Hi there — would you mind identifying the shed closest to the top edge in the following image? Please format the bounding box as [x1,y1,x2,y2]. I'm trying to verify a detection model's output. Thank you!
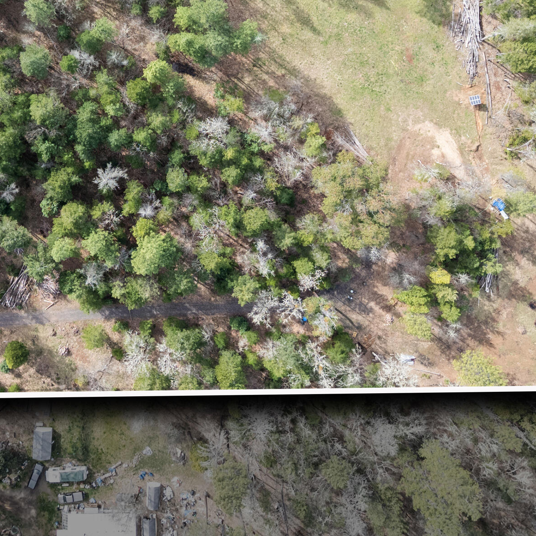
[32,424,53,462]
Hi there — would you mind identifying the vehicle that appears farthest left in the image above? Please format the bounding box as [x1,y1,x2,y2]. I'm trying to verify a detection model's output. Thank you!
[27,464,43,492]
